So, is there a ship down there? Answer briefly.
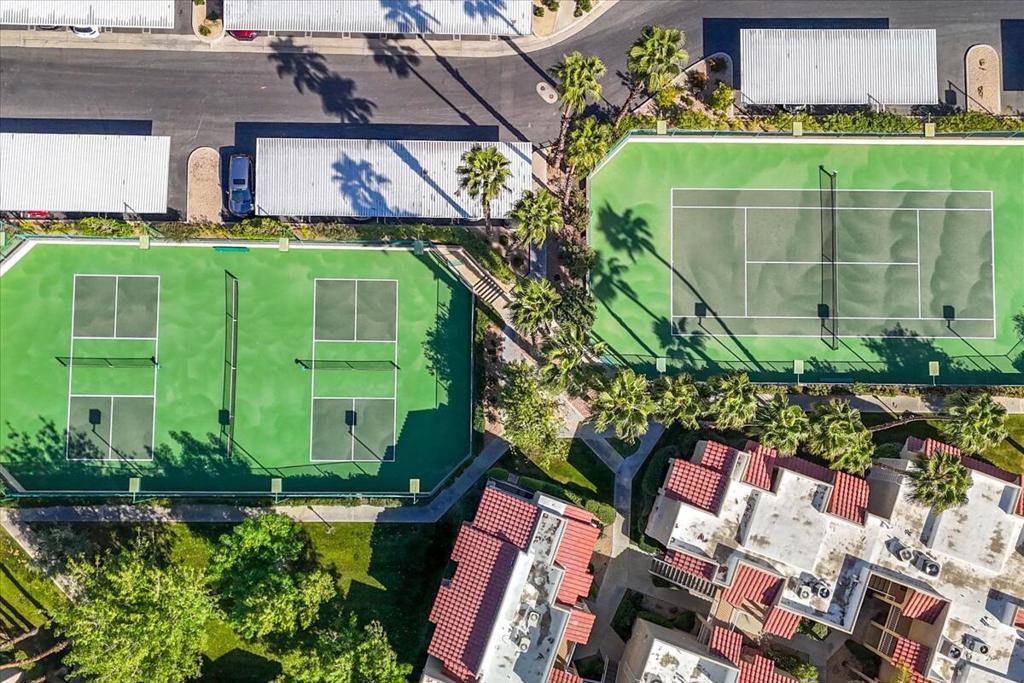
No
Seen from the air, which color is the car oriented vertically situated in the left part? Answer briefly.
blue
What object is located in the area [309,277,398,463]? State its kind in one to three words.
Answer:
sports court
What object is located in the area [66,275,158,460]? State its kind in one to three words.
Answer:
sports court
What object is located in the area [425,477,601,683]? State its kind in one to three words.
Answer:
building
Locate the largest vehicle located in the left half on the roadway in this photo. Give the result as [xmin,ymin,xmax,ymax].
[224,151,256,219]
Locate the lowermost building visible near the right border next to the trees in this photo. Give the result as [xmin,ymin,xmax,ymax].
[647,435,1024,683]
